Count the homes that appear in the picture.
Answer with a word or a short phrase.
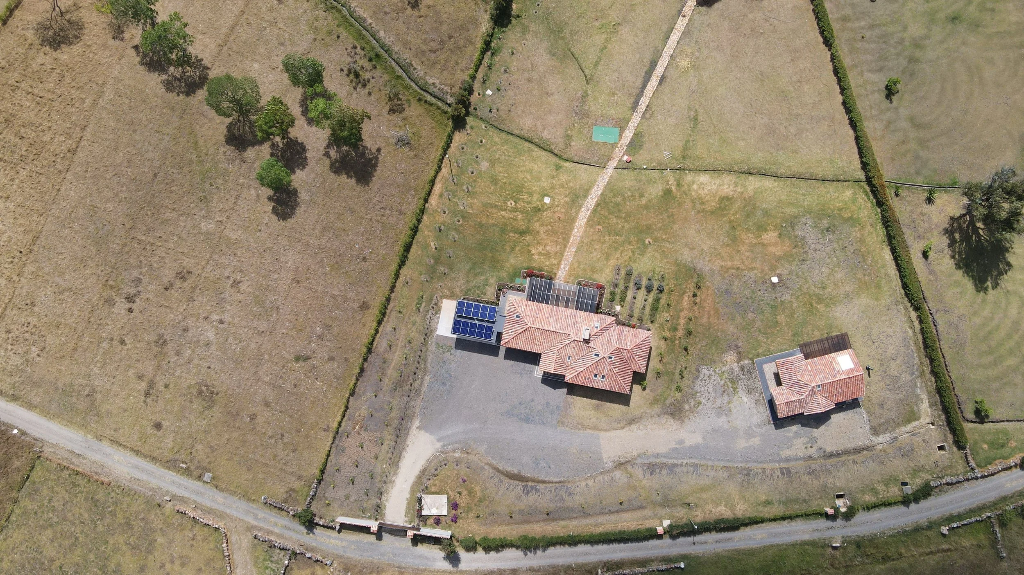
2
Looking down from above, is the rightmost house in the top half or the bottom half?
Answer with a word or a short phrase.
bottom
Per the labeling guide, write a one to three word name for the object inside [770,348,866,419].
house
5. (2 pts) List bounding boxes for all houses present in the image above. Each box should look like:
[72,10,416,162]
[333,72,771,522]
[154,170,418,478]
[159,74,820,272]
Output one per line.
[770,348,866,419]
[500,298,653,395]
